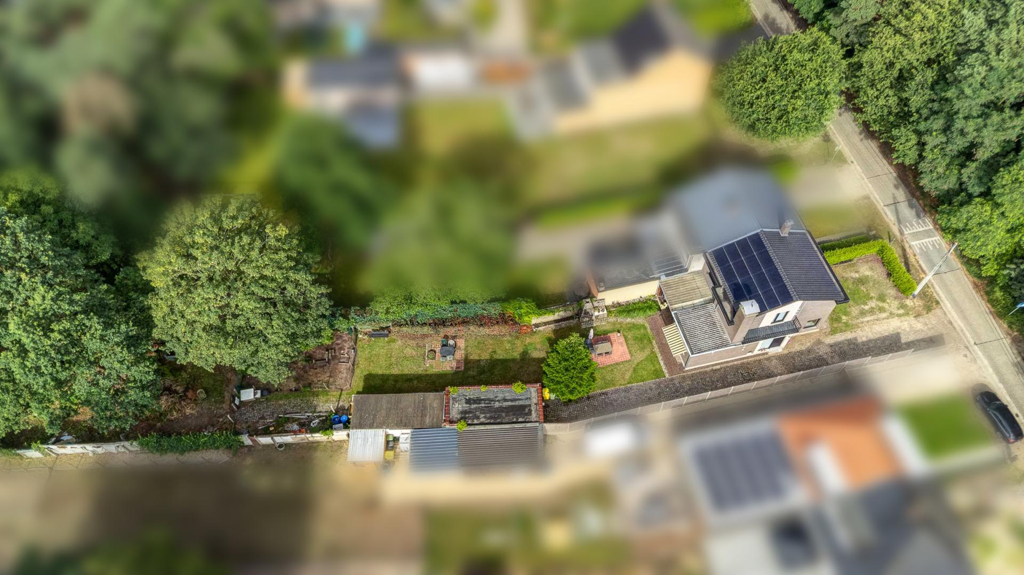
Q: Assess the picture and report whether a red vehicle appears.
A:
No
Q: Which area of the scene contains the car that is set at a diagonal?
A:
bottom right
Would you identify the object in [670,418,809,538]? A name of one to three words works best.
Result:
house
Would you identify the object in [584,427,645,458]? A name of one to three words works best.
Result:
van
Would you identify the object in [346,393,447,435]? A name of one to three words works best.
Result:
shed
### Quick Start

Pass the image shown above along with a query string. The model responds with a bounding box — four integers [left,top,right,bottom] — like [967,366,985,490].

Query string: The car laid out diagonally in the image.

[977,397,1024,447]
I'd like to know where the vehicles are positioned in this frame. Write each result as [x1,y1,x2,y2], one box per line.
[584,427,645,458]
[977,397,1024,447]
